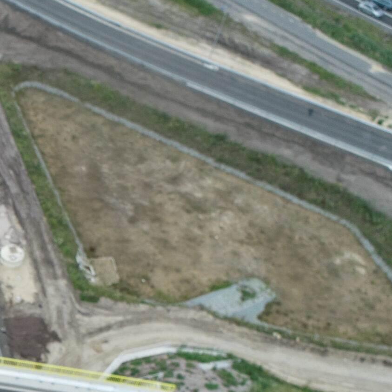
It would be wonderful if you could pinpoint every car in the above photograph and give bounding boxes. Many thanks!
[356,0,385,17]
[371,0,392,10]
